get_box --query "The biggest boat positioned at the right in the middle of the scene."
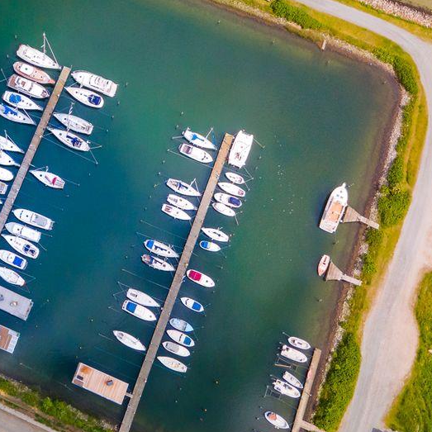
[319,181,348,235]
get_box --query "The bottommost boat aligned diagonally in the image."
[262,409,289,430]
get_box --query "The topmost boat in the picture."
[9,33,60,69]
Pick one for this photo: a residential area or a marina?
marina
